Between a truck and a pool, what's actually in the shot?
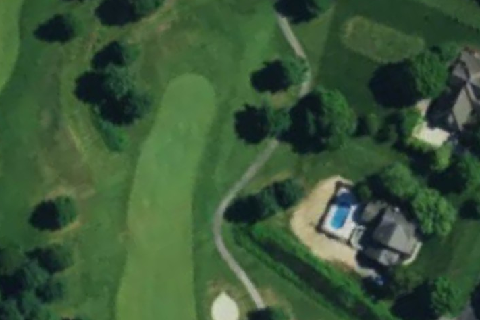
pool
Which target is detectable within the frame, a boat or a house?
house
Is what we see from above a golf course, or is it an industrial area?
golf course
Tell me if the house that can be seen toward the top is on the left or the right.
right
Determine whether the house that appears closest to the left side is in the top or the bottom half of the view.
bottom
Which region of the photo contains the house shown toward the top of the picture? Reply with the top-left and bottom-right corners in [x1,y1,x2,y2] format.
[436,42,480,135]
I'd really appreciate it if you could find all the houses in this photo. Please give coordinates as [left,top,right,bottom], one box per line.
[436,42,480,135]
[358,201,421,269]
